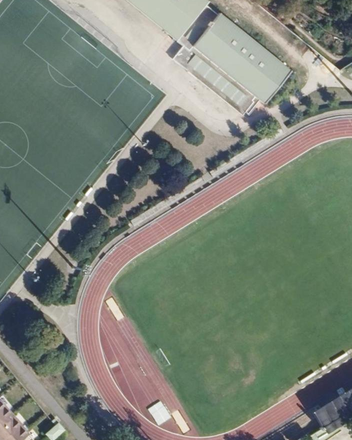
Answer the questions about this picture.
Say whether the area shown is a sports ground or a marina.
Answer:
sports ground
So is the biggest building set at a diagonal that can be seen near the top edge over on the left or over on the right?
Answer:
right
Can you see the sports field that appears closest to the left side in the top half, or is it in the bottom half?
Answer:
top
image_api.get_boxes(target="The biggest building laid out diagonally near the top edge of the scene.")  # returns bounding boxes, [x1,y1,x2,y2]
[192,13,292,102]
